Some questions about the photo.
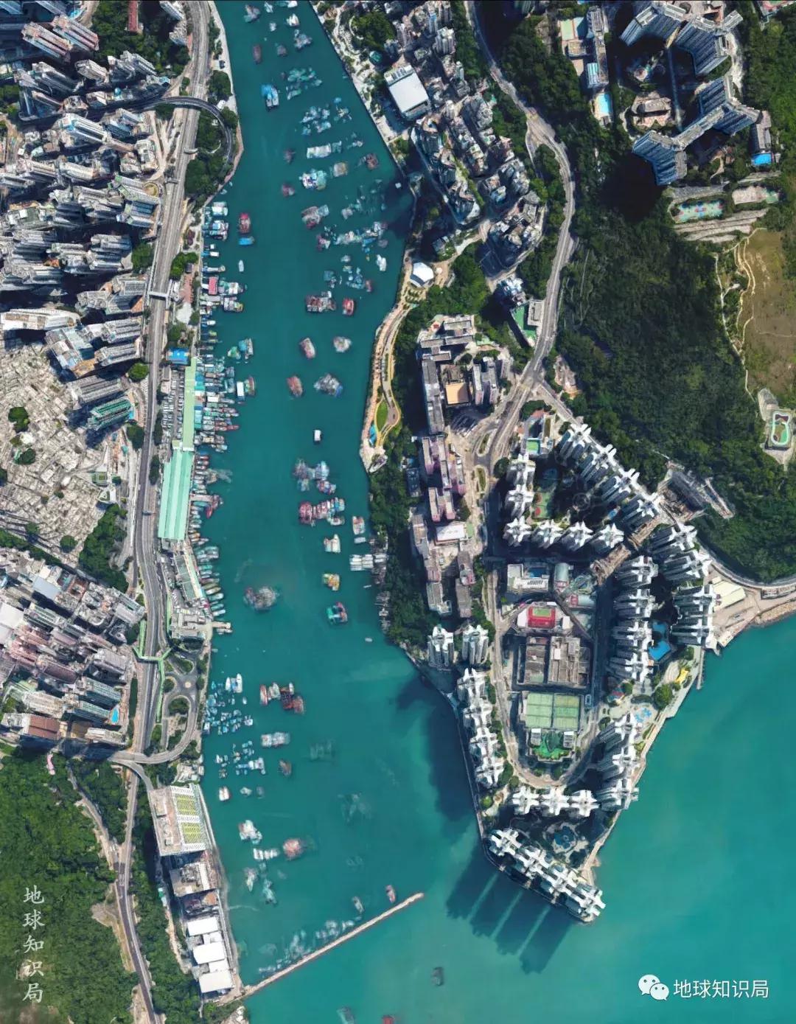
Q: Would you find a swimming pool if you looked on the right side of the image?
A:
Yes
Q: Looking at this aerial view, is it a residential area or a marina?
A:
marina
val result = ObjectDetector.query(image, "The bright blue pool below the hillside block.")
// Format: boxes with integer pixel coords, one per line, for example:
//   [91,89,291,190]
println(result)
[749,152,773,168]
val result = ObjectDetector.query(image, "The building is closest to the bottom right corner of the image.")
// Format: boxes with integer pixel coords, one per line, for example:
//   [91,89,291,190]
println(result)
[562,869,605,917]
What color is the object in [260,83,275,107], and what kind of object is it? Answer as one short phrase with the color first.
blue boat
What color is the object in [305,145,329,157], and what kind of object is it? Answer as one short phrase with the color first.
white boat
